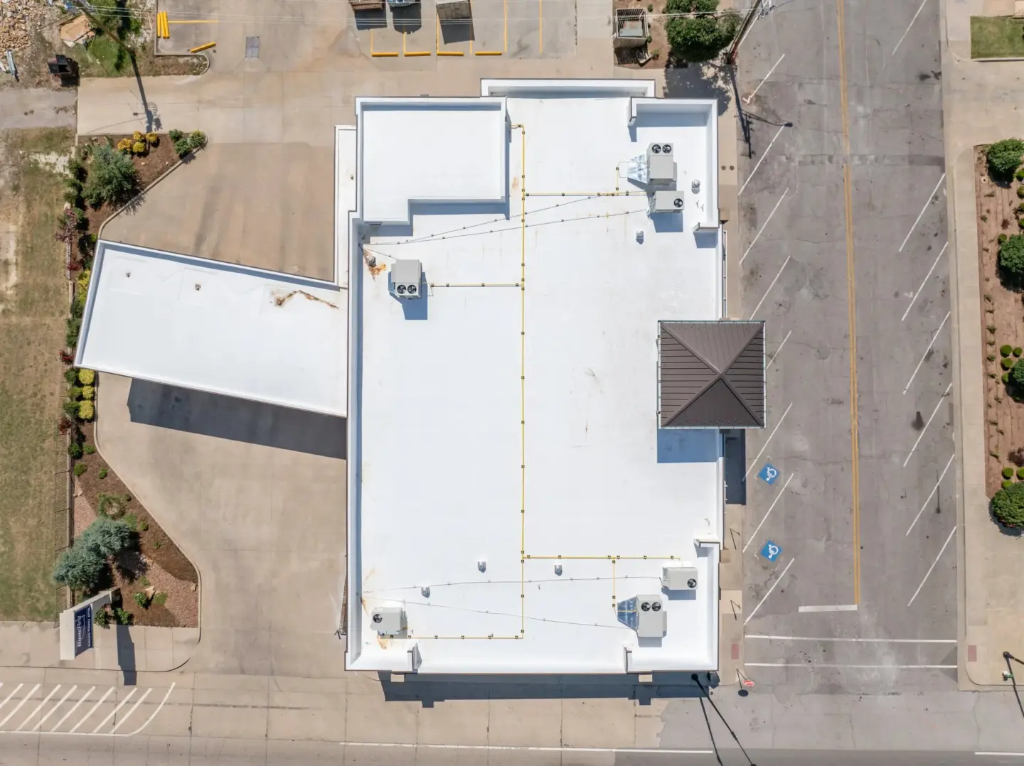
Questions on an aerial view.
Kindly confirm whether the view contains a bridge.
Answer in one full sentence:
No, there is no bridge in the image.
